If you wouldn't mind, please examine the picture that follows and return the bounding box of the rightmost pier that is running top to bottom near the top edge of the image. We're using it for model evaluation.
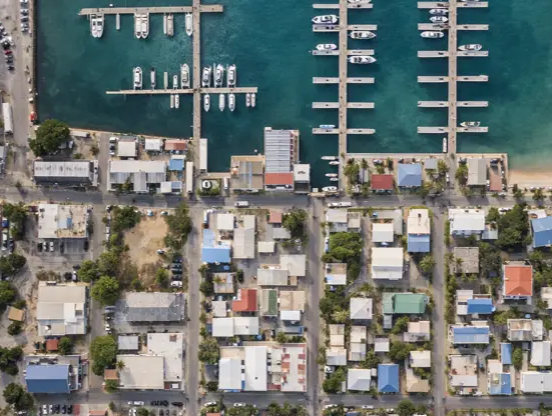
[417,0,488,153]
